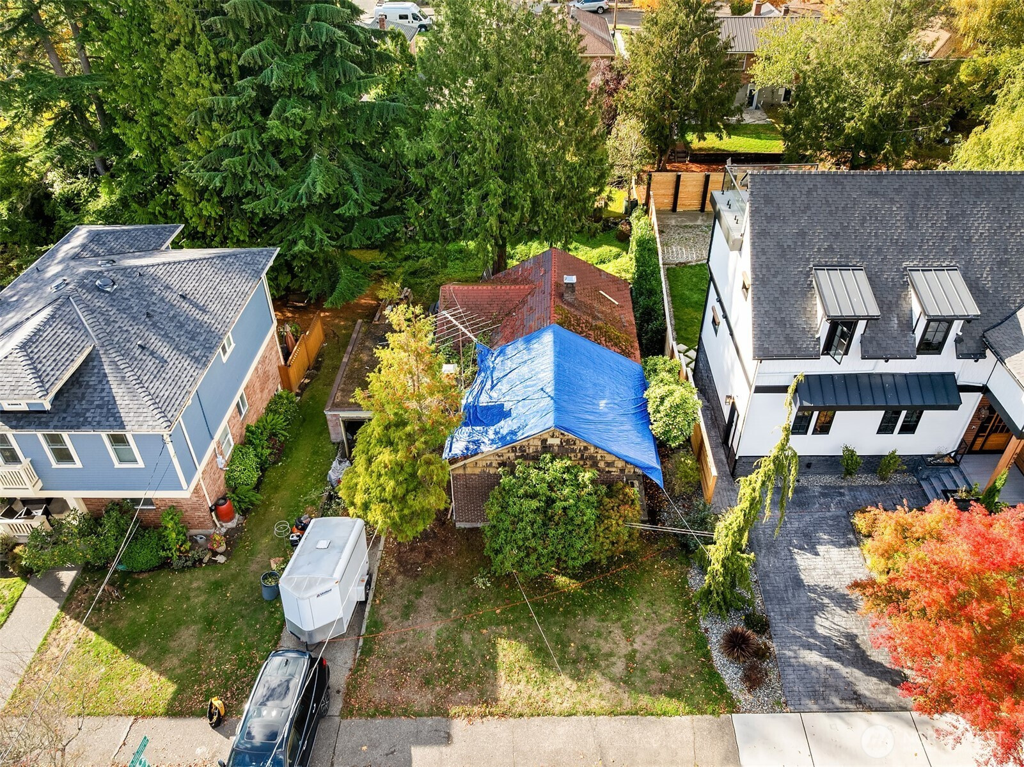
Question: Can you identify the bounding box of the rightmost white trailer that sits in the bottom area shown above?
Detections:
[287,515,374,653]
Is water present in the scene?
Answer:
No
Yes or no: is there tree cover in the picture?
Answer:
Yes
